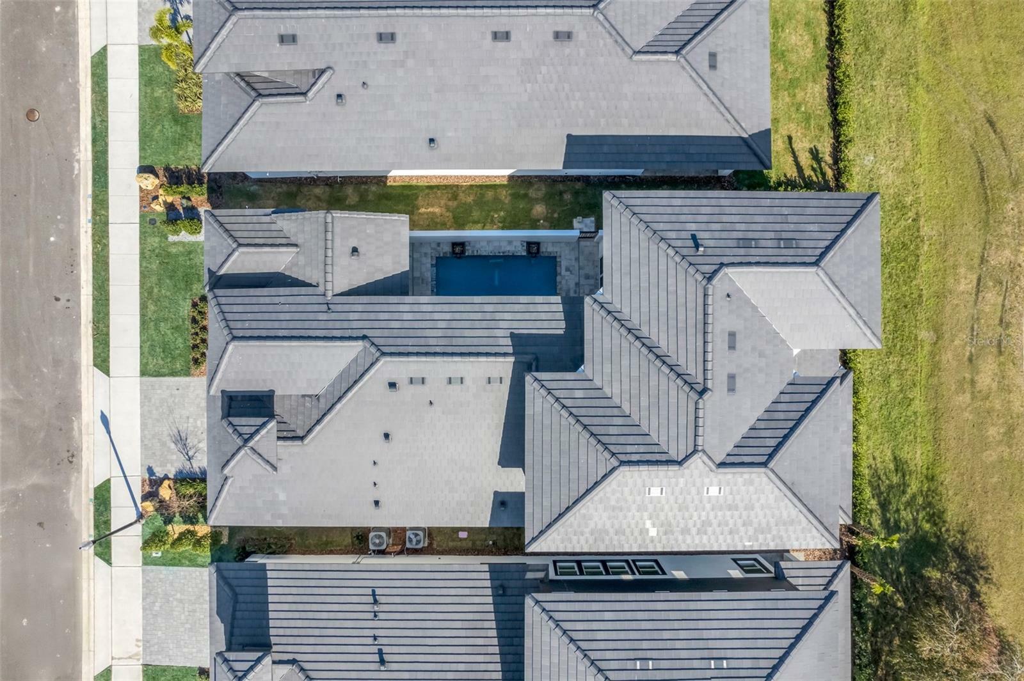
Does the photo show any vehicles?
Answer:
No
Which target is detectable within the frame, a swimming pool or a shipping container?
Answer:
swimming pool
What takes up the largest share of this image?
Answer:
buildings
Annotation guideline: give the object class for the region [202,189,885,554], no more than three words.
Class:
house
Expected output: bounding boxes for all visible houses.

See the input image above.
[208,552,854,681]
[192,0,773,178]
[202,189,885,554]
